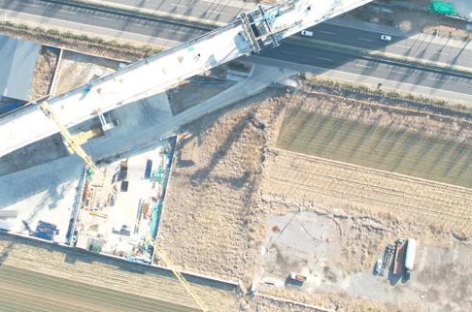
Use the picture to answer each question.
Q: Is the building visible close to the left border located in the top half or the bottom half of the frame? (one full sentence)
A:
You can find the building visible close to the left border in the top half.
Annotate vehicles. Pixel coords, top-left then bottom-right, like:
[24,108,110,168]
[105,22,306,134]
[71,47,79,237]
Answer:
[403,238,420,276]
[383,241,397,276]
[379,35,391,41]
[290,273,307,284]
[300,30,313,37]
[393,240,407,275]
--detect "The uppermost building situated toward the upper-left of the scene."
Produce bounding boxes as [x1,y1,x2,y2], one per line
[0,36,41,102]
